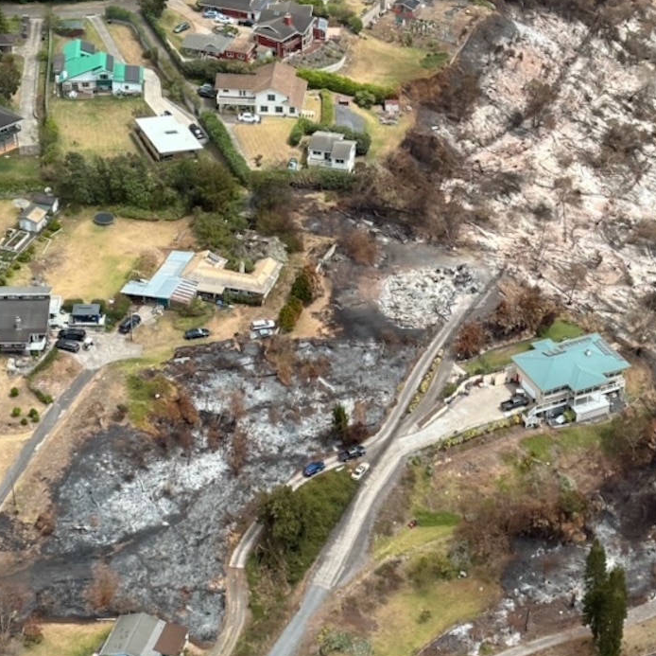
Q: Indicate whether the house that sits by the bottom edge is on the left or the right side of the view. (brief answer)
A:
left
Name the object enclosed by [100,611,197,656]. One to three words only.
house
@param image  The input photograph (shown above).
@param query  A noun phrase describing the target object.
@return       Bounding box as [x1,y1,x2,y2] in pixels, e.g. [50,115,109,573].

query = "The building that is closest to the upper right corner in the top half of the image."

[395,0,424,20]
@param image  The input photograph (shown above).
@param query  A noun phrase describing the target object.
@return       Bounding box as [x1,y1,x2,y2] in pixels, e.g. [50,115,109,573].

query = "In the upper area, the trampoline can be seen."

[92,212,115,226]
